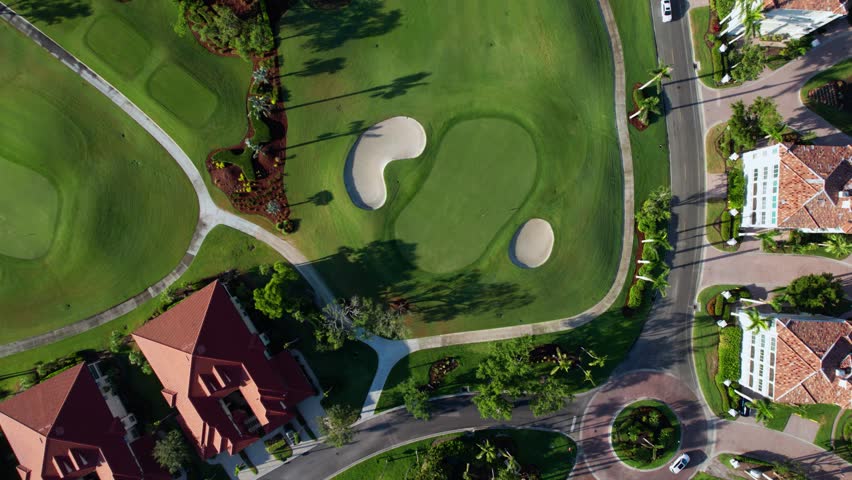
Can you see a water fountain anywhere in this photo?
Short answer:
No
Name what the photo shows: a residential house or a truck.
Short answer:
residential house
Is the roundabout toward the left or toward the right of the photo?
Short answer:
right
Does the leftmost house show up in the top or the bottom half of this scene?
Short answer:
bottom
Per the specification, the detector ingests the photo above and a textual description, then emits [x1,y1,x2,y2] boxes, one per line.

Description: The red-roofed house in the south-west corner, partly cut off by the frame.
[0,352,190,480]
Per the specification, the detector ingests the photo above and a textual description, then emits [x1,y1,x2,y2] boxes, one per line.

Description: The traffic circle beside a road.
[582,369,708,480]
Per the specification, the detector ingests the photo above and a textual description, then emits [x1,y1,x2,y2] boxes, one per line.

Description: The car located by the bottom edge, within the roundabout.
[667,452,691,474]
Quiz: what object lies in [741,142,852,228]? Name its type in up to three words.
house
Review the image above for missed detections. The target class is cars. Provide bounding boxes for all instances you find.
[667,452,691,474]
[736,393,750,419]
[660,0,674,23]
